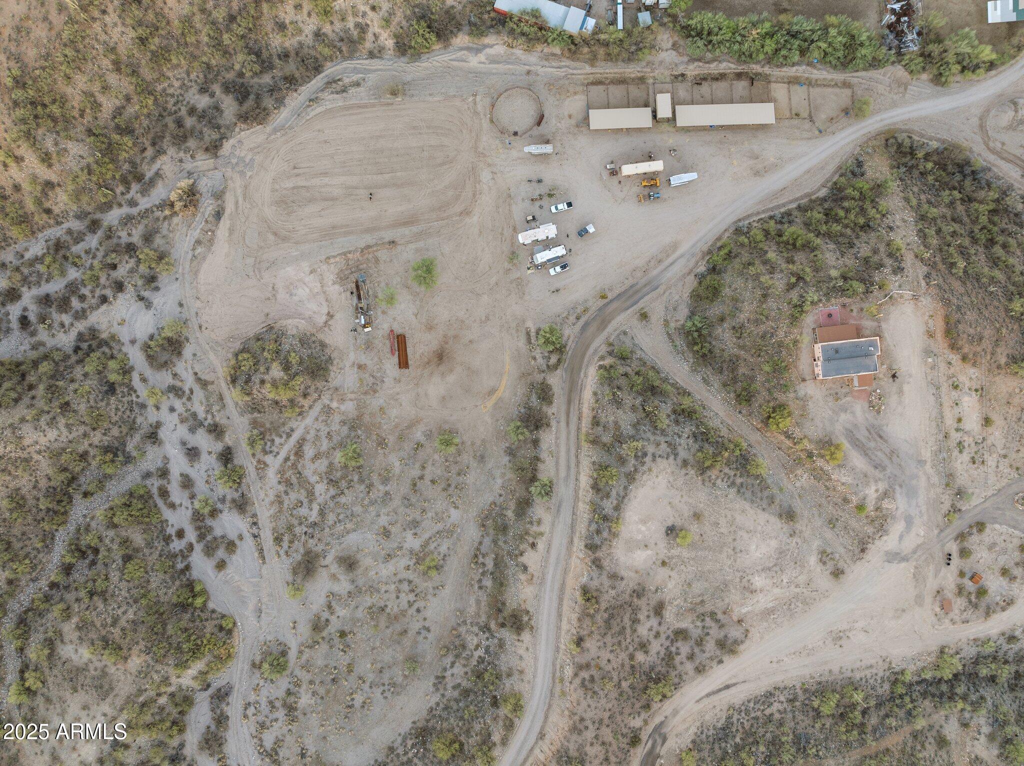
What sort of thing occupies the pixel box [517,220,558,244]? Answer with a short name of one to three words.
camper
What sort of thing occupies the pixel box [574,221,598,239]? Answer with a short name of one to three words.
vehicle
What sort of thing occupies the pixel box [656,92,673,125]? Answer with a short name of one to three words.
shed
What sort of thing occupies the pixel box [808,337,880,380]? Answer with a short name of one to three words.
house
